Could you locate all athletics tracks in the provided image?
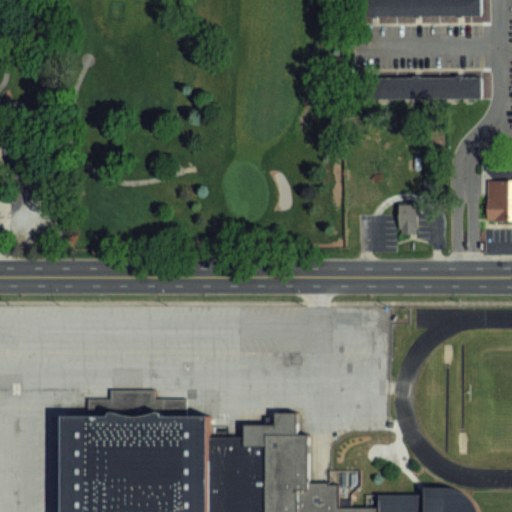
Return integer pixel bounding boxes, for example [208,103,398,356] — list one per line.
[396,309,512,488]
